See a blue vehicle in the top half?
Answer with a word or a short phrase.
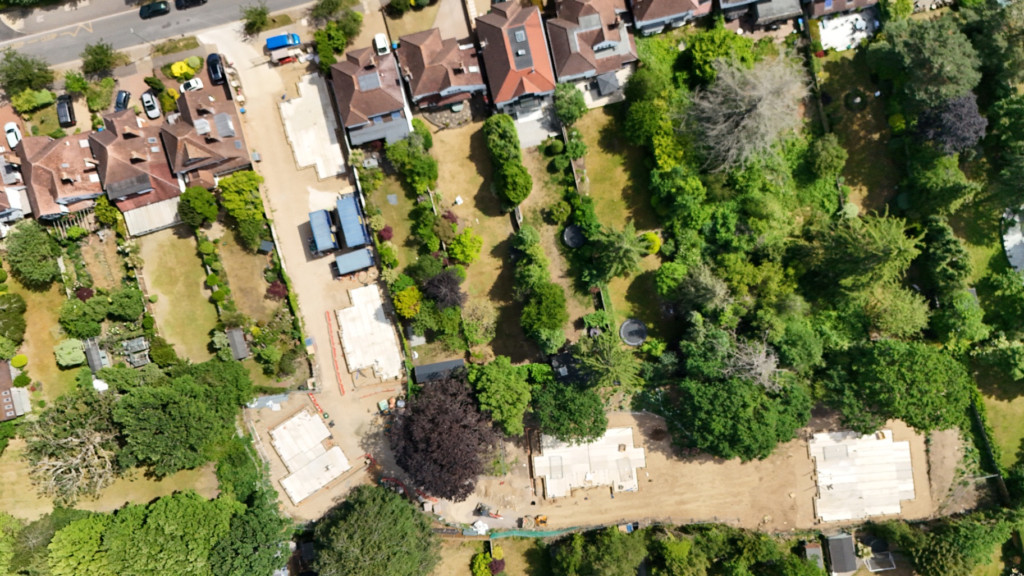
Yes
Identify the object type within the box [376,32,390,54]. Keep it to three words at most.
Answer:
car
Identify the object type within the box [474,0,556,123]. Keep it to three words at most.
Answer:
house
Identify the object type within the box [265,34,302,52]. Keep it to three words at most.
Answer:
vehicle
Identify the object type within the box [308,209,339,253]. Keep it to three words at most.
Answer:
building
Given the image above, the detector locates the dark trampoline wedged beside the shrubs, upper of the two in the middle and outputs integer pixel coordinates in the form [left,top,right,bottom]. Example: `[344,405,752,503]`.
[563,226,584,247]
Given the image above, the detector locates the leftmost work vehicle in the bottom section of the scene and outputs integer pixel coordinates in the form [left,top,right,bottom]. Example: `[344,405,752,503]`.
[477,501,506,520]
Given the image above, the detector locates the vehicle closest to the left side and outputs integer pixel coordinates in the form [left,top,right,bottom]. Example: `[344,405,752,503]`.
[5,121,22,149]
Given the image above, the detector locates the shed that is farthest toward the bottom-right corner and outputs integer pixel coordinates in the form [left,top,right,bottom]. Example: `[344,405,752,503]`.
[823,532,857,573]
